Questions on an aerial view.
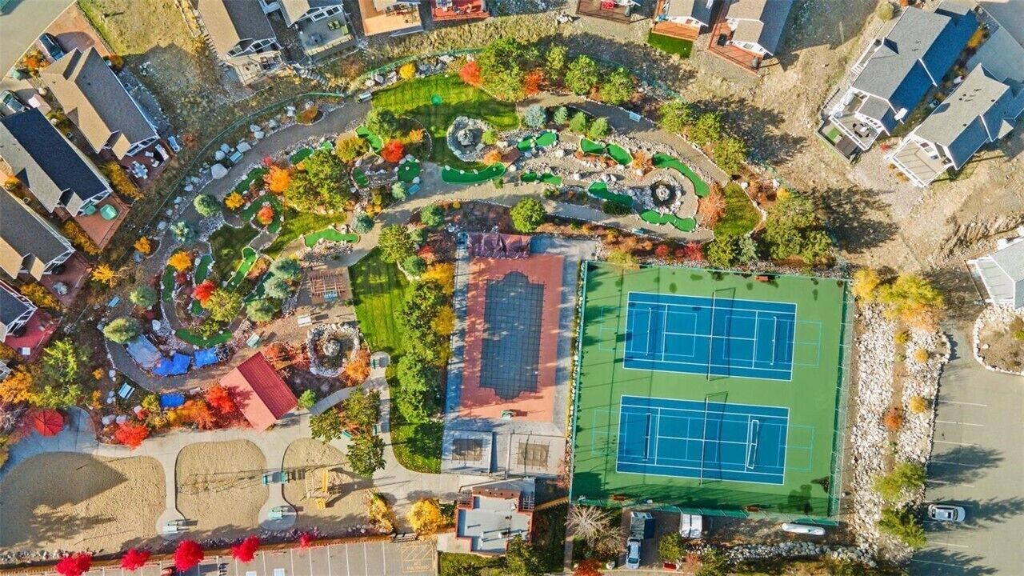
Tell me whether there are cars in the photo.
Yes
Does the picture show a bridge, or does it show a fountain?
fountain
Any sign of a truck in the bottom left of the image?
No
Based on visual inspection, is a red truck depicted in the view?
No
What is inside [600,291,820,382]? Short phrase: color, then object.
blue tennis court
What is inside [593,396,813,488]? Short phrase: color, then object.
blue tennis court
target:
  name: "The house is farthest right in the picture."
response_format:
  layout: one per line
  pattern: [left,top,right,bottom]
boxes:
[961,229,1024,307]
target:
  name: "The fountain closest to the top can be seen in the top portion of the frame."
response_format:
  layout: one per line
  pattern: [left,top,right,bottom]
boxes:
[444,116,490,161]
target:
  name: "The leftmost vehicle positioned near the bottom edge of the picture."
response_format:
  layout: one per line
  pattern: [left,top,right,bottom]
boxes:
[626,539,642,571]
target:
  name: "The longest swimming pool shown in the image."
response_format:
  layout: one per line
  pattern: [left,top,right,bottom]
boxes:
[442,234,598,482]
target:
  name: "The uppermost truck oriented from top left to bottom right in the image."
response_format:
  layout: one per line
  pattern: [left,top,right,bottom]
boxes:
[32,27,66,64]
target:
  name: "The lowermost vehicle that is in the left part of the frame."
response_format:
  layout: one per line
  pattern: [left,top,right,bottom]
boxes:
[0,84,27,113]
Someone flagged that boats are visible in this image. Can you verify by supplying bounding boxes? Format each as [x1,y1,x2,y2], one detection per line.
[783,523,825,536]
